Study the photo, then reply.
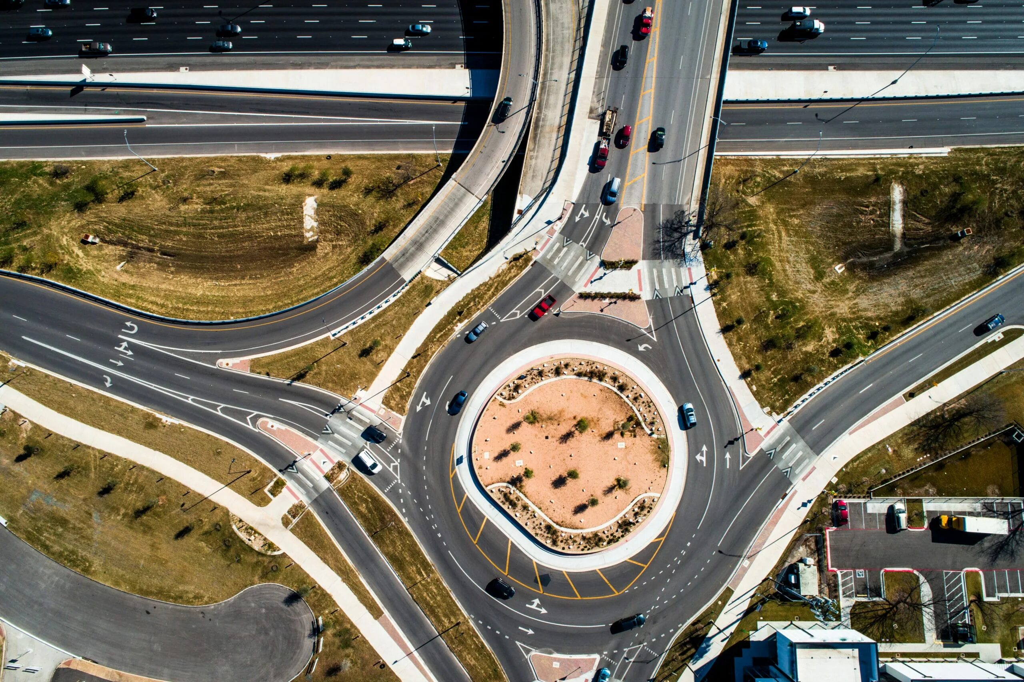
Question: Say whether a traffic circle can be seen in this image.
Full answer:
Yes, there's a traffic circle here.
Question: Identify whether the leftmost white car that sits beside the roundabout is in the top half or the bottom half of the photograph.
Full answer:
Seen from above, the leftmost white car that sits beside the roundabout lies in the bottom half of the view.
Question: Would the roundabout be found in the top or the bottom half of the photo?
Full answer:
It is in the bottom half that the roundabout appears.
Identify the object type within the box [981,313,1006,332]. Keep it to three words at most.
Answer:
car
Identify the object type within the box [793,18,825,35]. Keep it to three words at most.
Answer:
vehicle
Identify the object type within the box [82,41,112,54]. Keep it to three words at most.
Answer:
vehicle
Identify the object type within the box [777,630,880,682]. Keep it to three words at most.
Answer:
building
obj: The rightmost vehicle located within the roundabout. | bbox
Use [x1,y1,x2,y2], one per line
[683,403,697,427]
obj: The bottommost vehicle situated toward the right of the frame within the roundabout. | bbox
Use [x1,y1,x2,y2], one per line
[619,613,645,630]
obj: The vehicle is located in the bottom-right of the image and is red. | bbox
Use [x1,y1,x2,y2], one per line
[835,501,849,524]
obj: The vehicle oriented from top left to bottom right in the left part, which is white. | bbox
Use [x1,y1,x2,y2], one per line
[359,450,383,473]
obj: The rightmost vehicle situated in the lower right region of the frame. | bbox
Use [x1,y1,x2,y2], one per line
[937,515,1011,533]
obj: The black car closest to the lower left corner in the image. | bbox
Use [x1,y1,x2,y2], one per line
[364,424,389,443]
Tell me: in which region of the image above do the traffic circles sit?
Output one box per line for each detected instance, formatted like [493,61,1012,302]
[385,298,776,667]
